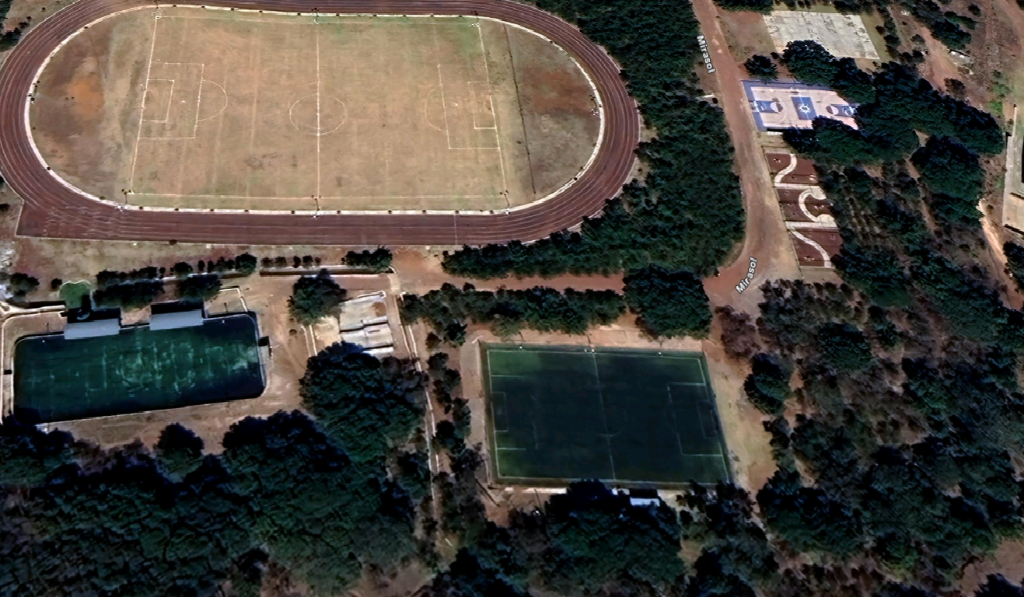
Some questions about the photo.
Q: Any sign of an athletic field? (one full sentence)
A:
Yes, you can see an athletic field in this photo.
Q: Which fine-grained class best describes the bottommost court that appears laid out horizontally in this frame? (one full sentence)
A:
I'd identify the bottommost court that appears laid out horizontally as a basketball court.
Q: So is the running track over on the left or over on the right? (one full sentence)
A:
The running track appears in the left half of the scene.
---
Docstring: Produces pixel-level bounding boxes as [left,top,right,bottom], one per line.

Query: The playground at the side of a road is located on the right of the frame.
[763,145,849,268]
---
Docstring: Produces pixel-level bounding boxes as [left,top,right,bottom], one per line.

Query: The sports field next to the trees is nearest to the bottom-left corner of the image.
[14,316,265,425]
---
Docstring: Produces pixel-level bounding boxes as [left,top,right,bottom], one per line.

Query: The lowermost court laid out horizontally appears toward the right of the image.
[742,80,862,135]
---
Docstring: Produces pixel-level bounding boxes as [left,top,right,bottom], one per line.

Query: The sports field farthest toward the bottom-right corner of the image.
[476,343,735,492]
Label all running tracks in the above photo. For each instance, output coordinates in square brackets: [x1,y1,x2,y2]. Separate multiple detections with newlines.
[0,0,642,248]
